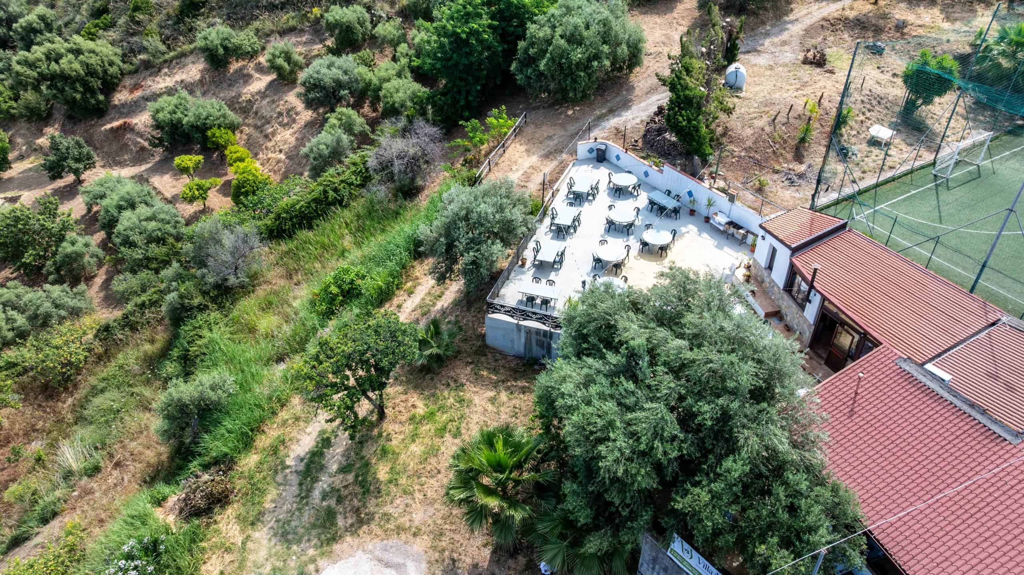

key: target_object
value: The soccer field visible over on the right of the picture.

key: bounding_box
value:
[817,131,1024,321]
